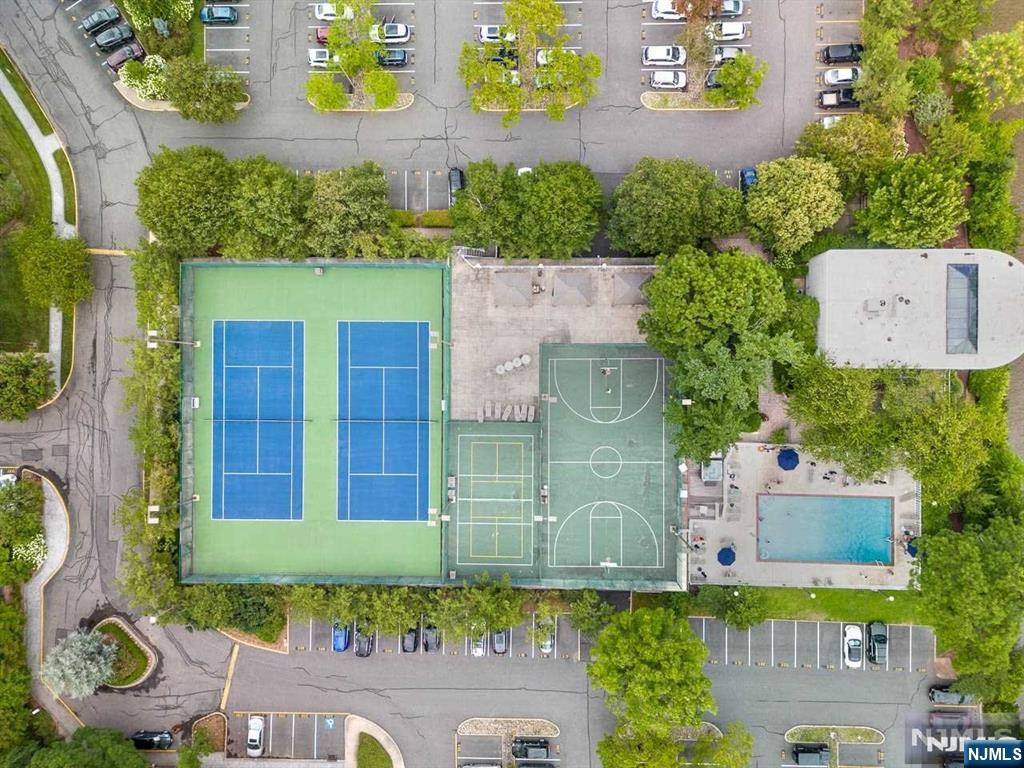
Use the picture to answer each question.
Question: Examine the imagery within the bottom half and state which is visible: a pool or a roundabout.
pool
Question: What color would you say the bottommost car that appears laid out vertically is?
white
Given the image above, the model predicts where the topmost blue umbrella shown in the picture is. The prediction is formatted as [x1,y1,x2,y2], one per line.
[775,448,797,469]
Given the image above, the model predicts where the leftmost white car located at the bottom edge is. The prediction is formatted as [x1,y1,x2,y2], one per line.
[246,713,266,754]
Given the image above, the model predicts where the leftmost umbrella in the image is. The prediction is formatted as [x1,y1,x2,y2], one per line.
[716,546,734,565]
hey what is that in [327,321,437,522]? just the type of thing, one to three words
tennis court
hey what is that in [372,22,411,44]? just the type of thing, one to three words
car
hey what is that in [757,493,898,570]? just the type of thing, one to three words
swimming pool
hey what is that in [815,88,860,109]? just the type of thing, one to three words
truck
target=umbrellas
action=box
[898,540,920,558]
[775,448,797,469]
[716,546,734,565]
